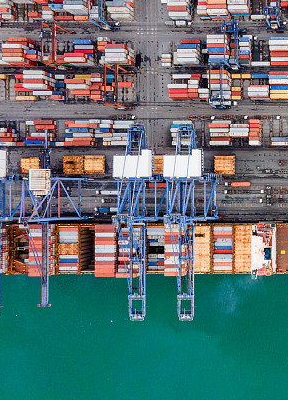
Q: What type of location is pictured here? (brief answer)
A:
port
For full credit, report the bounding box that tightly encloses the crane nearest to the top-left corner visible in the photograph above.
[41,21,78,71]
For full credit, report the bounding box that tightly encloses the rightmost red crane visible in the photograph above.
[104,63,135,109]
